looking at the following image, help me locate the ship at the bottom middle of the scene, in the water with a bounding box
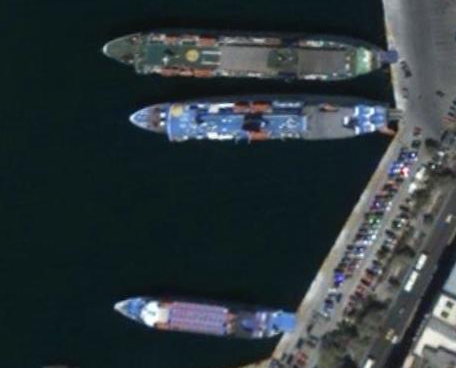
[115,296,296,337]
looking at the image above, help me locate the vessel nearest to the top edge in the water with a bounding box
[103,31,397,80]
